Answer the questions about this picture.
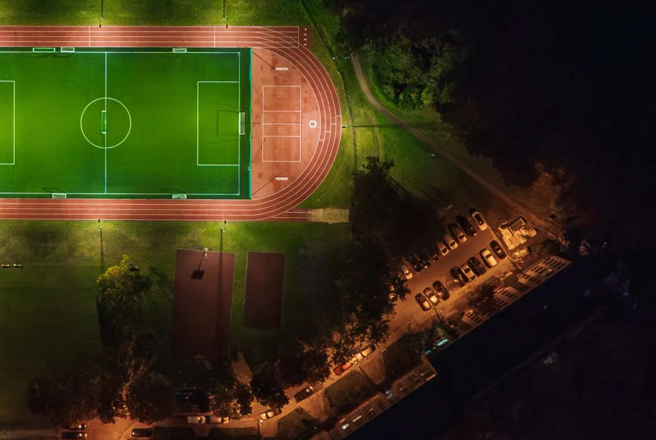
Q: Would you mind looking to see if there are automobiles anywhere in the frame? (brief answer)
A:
Yes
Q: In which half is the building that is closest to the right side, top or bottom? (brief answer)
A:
bottom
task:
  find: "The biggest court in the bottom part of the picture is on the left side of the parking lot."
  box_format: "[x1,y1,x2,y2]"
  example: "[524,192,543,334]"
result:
[171,249,234,359]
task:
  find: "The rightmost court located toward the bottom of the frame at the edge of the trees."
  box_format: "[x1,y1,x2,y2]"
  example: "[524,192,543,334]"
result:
[243,252,285,329]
